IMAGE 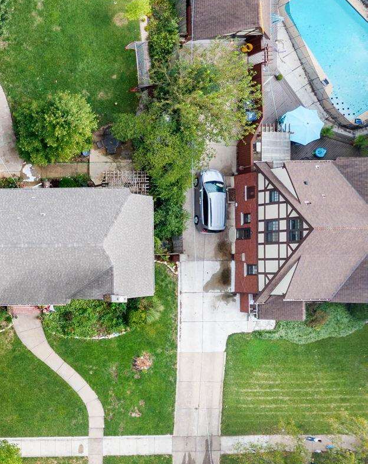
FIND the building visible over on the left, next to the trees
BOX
[0,189,153,315]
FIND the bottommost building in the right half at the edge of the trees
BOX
[225,157,368,320]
